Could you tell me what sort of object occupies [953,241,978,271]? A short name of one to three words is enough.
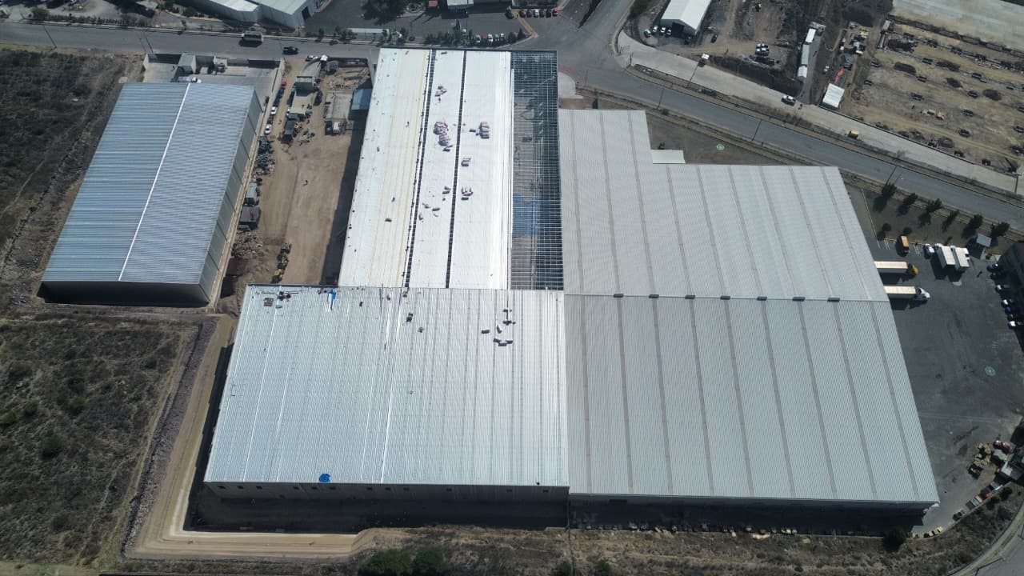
truck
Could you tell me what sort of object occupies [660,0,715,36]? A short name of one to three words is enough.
shed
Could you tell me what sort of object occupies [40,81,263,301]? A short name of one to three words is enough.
warehouse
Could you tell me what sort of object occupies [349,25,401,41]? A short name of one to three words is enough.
vehicle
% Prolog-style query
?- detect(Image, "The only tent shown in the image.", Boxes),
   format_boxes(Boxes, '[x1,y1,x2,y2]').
[820,80,845,115]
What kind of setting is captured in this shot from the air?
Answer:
industrial area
